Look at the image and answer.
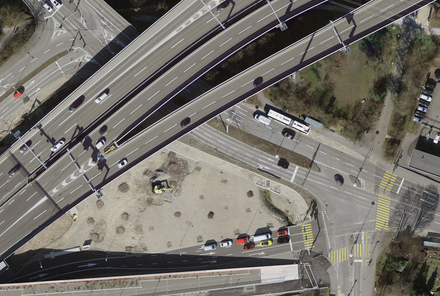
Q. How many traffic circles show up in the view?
none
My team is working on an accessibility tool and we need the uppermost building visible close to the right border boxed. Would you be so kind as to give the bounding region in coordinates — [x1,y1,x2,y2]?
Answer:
[410,148,440,176]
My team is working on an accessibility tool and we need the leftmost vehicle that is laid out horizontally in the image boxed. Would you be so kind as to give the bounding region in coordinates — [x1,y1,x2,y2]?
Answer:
[151,182,175,194]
